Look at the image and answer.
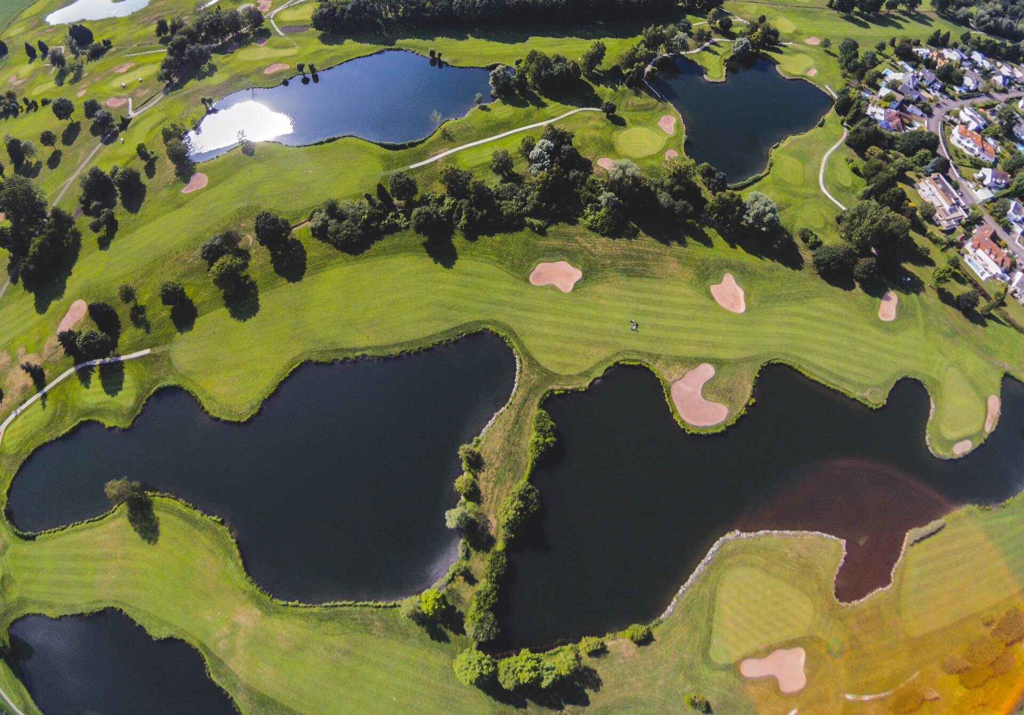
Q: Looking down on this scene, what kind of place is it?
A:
golf course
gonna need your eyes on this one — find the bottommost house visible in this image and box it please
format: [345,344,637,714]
[996,268,1024,298]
